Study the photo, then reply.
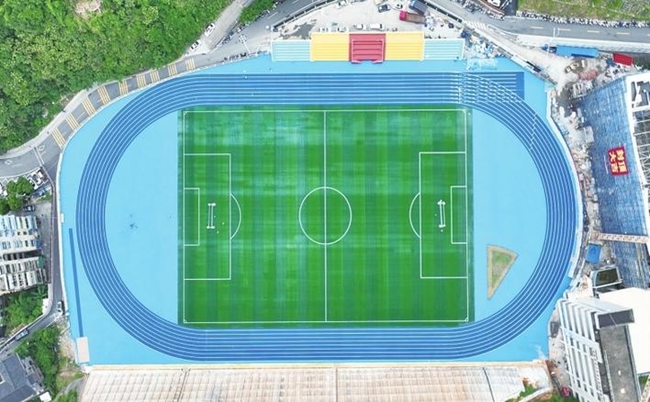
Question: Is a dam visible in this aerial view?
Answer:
No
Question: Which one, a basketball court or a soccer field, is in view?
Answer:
soccer field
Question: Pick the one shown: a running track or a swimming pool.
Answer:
running track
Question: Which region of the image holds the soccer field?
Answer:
center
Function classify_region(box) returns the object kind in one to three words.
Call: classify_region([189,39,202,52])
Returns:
vehicle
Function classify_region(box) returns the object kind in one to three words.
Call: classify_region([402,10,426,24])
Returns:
vehicle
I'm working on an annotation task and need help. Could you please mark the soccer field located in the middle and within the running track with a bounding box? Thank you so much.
[178,105,474,328]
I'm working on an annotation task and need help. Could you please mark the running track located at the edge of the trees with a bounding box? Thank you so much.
[63,50,578,363]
